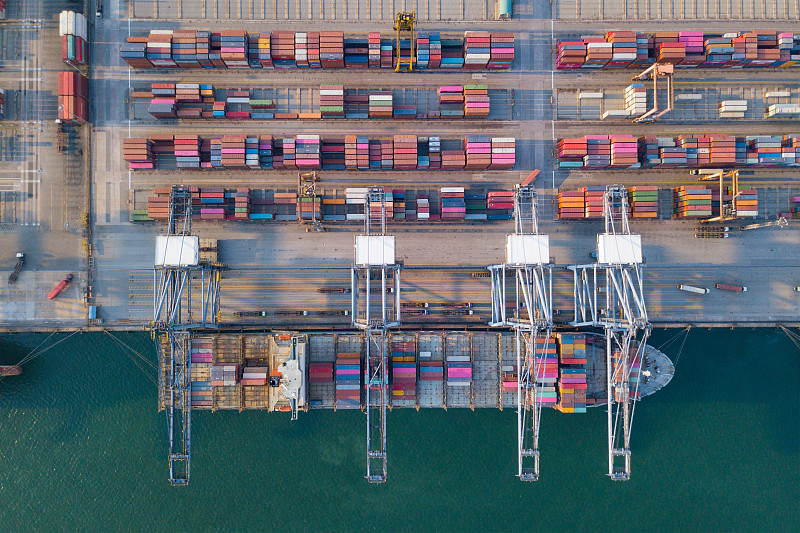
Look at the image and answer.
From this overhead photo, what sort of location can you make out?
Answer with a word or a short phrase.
port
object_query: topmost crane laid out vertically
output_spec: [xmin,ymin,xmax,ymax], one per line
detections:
[392,5,416,73]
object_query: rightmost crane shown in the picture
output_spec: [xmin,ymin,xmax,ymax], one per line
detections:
[695,168,740,225]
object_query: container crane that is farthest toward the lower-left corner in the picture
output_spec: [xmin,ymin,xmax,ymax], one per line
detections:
[144,186,235,488]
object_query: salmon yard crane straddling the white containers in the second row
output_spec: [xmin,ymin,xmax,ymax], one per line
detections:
[634,59,675,124]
